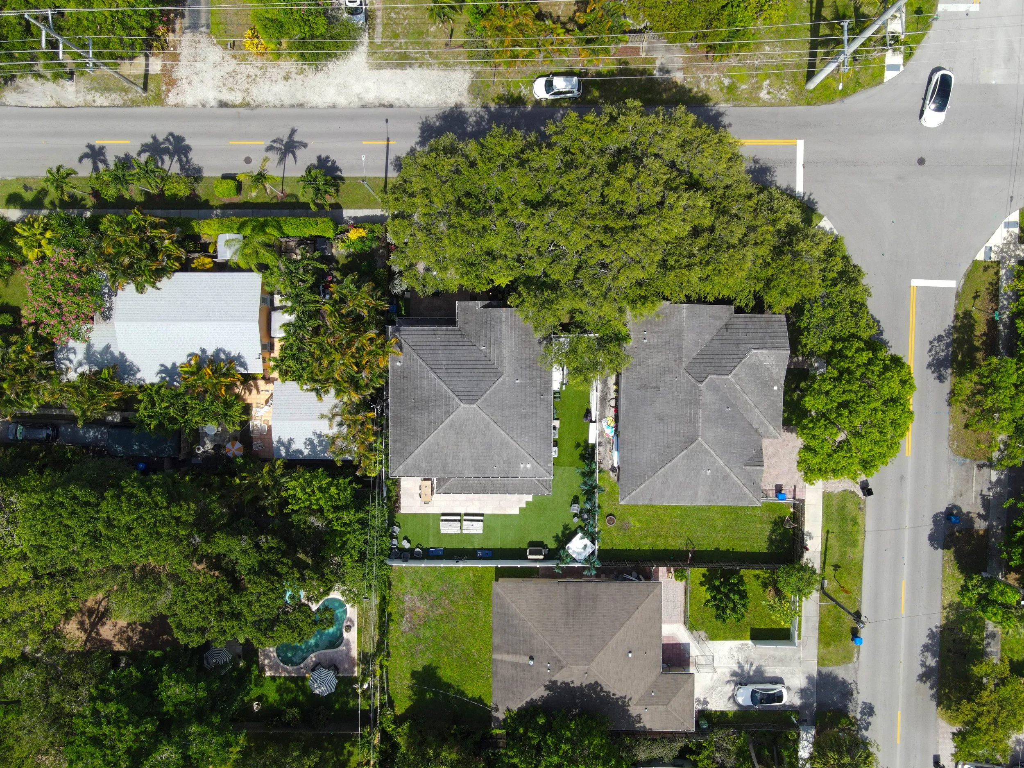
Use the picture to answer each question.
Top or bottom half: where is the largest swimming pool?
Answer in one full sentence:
The largest swimming pool is in the bottom half of the image.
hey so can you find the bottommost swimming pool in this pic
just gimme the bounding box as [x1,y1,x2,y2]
[275,594,352,671]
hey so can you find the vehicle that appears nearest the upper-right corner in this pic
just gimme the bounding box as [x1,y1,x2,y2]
[917,70,955,128]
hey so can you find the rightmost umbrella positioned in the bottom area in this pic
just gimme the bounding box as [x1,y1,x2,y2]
[309,668,338,696]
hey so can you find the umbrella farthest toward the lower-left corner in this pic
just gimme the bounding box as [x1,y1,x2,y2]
[204,647,232,674]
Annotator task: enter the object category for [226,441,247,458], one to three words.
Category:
umbrella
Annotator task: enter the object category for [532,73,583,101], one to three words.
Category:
car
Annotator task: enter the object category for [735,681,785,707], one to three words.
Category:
car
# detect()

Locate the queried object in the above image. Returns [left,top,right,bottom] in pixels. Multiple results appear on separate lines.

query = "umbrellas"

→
[226,441,247,458]
[204,647,232,674]
[309,668,338,696]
